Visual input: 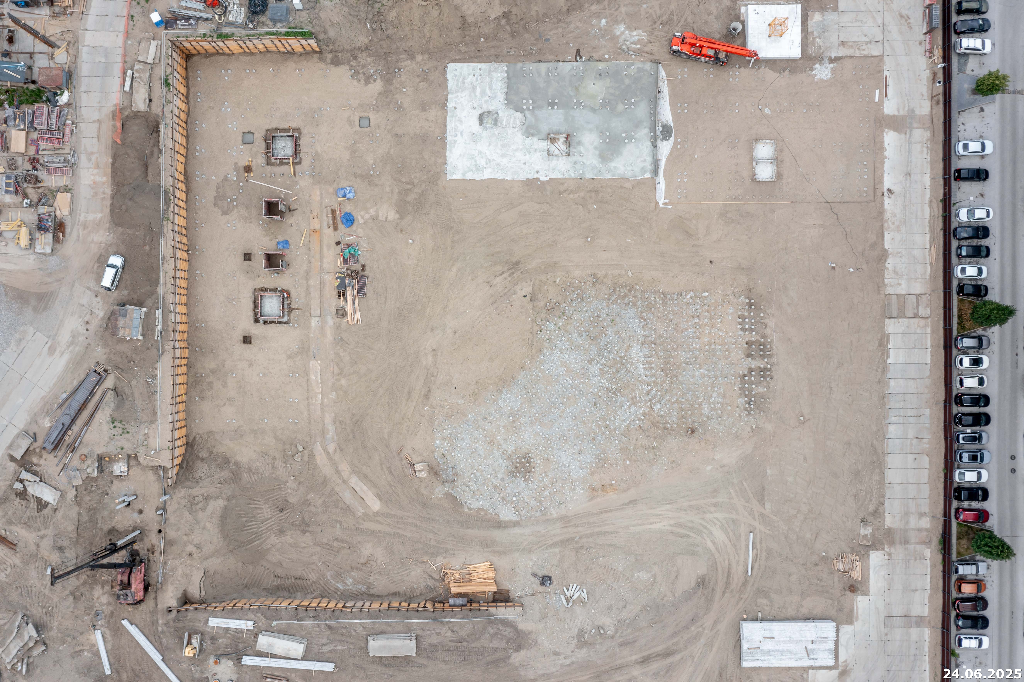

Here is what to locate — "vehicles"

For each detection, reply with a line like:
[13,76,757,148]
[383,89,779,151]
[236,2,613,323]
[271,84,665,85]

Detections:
[953,0,987,16]
[952,224,989,241]
[953,578,986,596]
[952,263,988,280]
[953,392,989,409]
[954,139,992,156]
[953,37,990,56]
[954,430,989,447]
[953,354,989,370]
[954,486,989,504]
[954,206,993,223]
[953,560,987,577]
[953,334,990,351]
[954,468,988,484]
[954,448,990,466]
[953,243,991,260]
[953,633,990,650]
[96,254,125,295]
[952,613,989,632]
[952,283,989,299]
[953,594,988,613]
[953,374,987,390]
[953,507,989,525]
[953,412,990,429]
[952,16,990,36]
[952,165,989,183]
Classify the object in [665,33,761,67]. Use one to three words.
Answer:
crane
